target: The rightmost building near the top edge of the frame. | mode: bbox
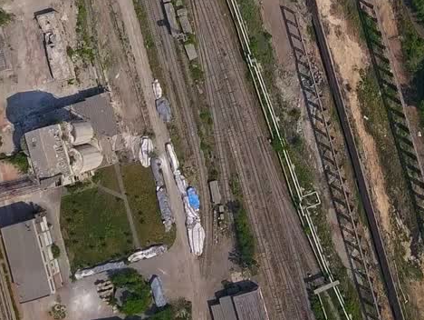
[33,8,76,82]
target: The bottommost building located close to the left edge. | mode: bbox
[1,214,66,302]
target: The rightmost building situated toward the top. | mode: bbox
[71,92,125,136]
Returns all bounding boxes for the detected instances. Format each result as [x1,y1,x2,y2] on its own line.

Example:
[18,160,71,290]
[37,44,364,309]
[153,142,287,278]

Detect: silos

[58,116,95,141]
[62,142,105,171]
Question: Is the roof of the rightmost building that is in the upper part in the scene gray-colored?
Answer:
Yes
